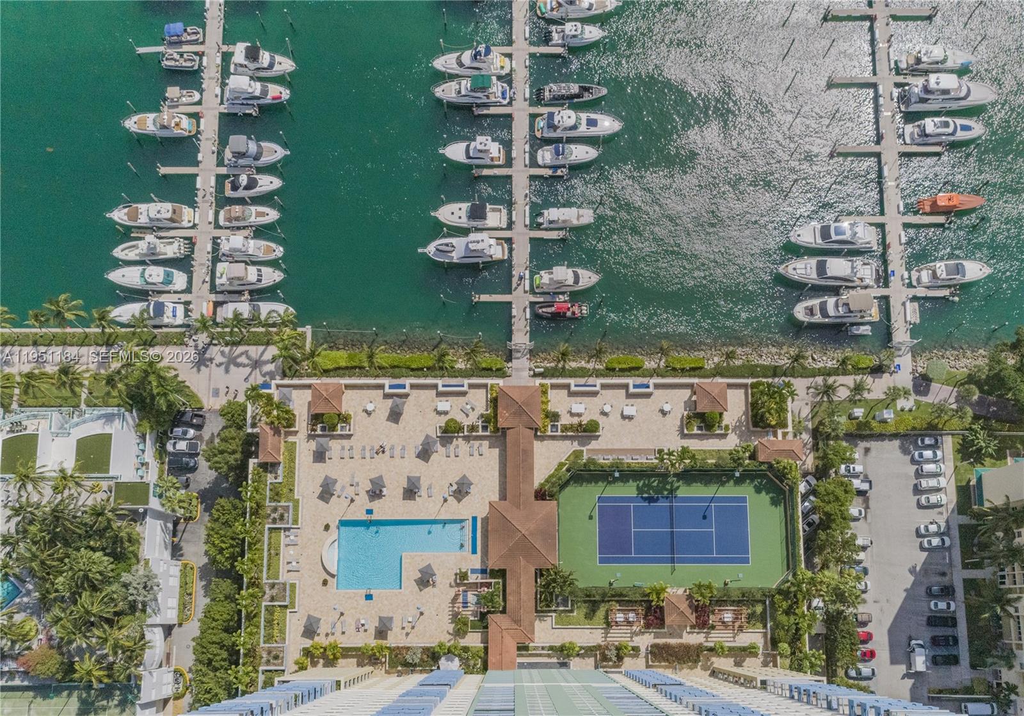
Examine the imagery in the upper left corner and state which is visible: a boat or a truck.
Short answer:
boat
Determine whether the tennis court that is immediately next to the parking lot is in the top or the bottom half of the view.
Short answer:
bottom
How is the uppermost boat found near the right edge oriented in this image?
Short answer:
from left to right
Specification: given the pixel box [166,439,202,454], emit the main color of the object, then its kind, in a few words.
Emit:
gray vehicle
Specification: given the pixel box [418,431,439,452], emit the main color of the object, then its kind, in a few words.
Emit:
gray umbrella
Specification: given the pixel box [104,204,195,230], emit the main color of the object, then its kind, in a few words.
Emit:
white boat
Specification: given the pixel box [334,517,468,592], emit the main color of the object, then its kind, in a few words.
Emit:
blue swimming pool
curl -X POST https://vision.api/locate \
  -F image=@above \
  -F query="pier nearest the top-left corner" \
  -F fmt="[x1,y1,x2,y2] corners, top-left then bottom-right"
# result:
[131,0,259,322]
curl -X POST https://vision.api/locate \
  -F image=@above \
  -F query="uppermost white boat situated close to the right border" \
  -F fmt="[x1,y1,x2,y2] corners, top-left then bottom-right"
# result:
[896,48,977,76]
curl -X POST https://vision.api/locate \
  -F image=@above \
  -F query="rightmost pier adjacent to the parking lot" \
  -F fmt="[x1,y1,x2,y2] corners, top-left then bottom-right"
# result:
[831,0,951,351]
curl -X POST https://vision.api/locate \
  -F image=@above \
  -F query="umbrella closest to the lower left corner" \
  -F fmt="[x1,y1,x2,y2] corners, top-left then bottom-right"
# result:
[302,612,324,632]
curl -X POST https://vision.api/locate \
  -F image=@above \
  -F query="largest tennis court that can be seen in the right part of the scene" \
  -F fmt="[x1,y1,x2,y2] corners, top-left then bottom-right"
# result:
[558,474,787,587]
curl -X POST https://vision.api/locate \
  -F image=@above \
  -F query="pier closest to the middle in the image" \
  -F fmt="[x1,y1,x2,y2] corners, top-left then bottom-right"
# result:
[474,0,569,352]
